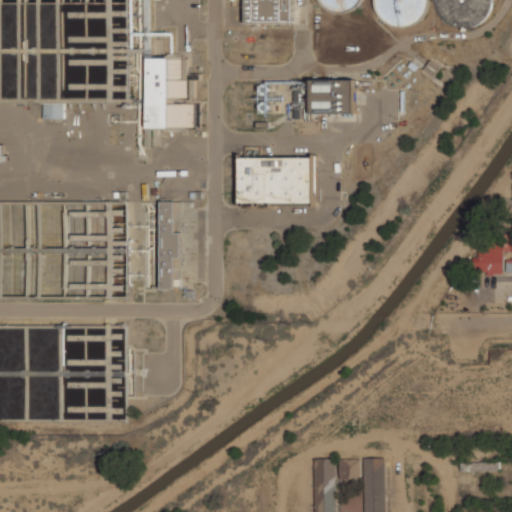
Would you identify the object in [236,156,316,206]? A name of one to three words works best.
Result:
building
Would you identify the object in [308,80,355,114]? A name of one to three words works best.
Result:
building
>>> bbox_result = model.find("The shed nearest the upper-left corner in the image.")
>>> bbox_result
[42,104,66,119]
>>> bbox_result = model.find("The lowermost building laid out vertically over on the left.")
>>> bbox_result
[158,202,178,288]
